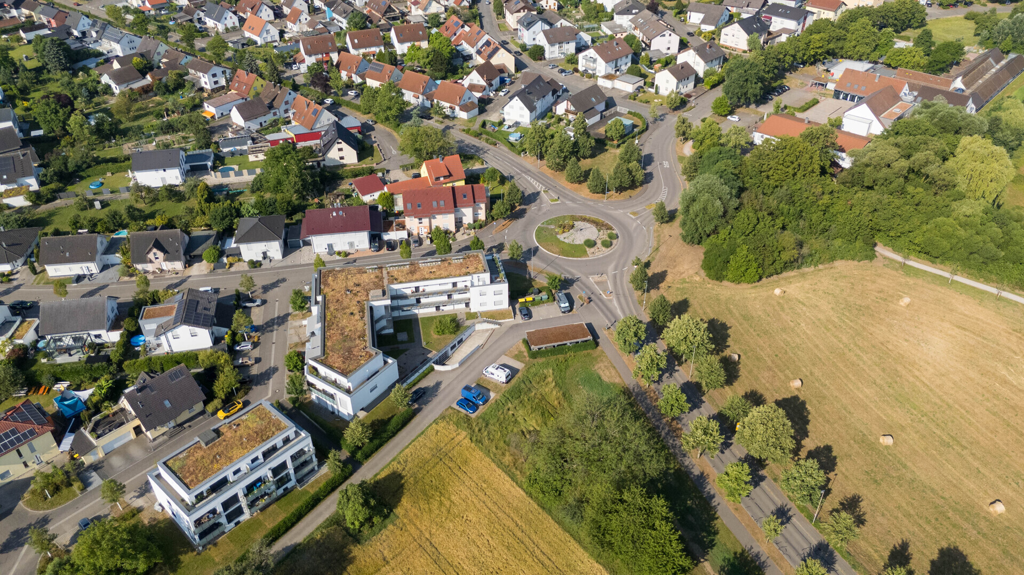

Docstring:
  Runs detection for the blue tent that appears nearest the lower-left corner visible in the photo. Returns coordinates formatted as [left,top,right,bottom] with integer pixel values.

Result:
[54,391,90,429]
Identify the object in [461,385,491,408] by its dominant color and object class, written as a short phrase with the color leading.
blue vehicle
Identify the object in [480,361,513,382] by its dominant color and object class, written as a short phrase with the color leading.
white vehicle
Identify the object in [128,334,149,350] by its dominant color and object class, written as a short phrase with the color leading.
blue swimming pool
